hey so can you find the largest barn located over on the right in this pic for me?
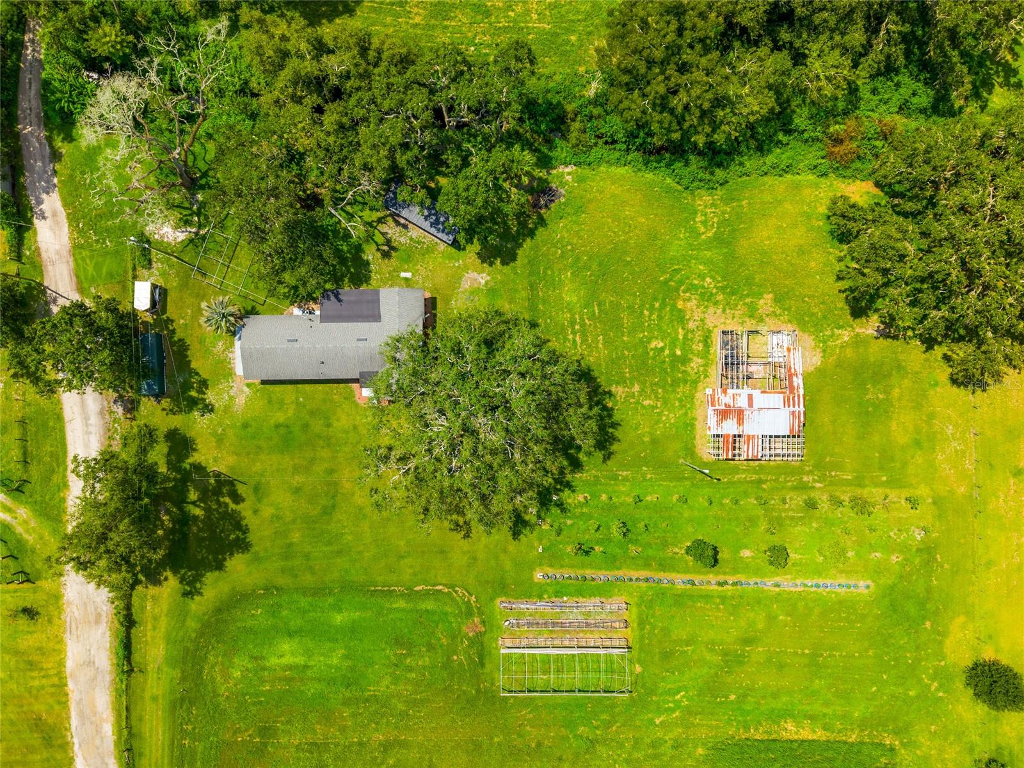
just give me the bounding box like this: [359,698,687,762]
[705,324,806,467]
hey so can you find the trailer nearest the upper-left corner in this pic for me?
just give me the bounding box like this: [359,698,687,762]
[134,281,166,321]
